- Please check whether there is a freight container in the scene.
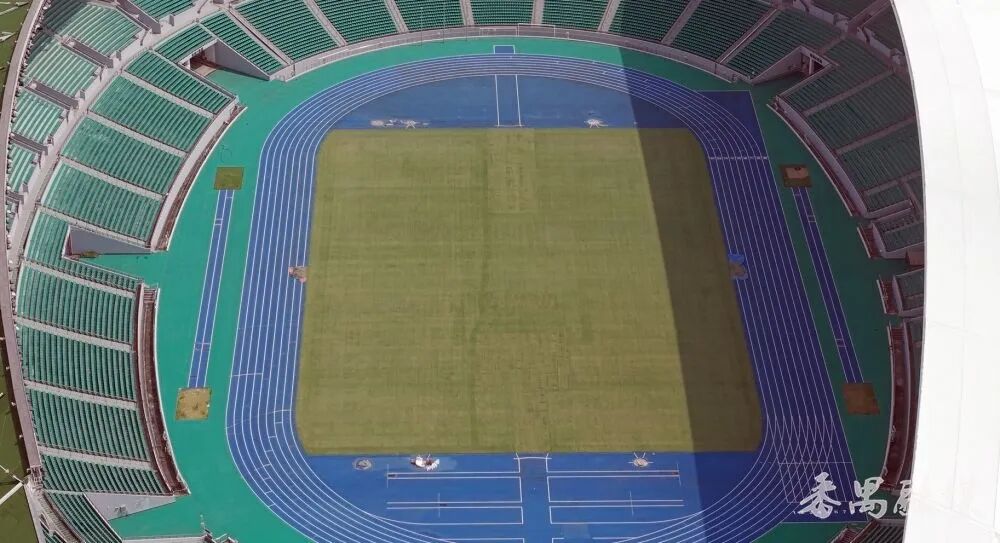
No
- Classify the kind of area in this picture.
sports ground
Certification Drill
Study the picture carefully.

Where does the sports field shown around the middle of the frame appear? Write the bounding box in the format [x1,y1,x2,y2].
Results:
[297,126,762,457]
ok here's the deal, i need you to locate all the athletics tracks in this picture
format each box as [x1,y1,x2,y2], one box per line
[226,54,869,543]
